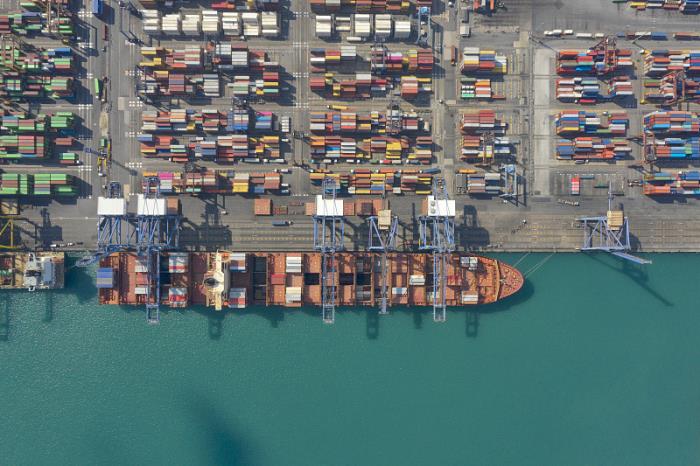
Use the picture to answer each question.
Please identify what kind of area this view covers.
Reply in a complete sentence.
This looks like a port.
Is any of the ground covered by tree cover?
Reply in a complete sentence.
No, the scene doesn't show any tree cover.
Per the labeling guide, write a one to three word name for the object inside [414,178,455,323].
container crane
